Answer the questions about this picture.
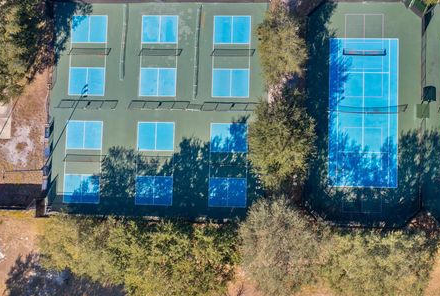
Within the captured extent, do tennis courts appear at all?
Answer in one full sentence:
Yes, a tennis court appears in the view.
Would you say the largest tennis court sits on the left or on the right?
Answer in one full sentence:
The largest tennis court is on the right side of the image.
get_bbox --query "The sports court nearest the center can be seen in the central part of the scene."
[209,124,248,207]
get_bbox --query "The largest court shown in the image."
[328,14,398,212]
